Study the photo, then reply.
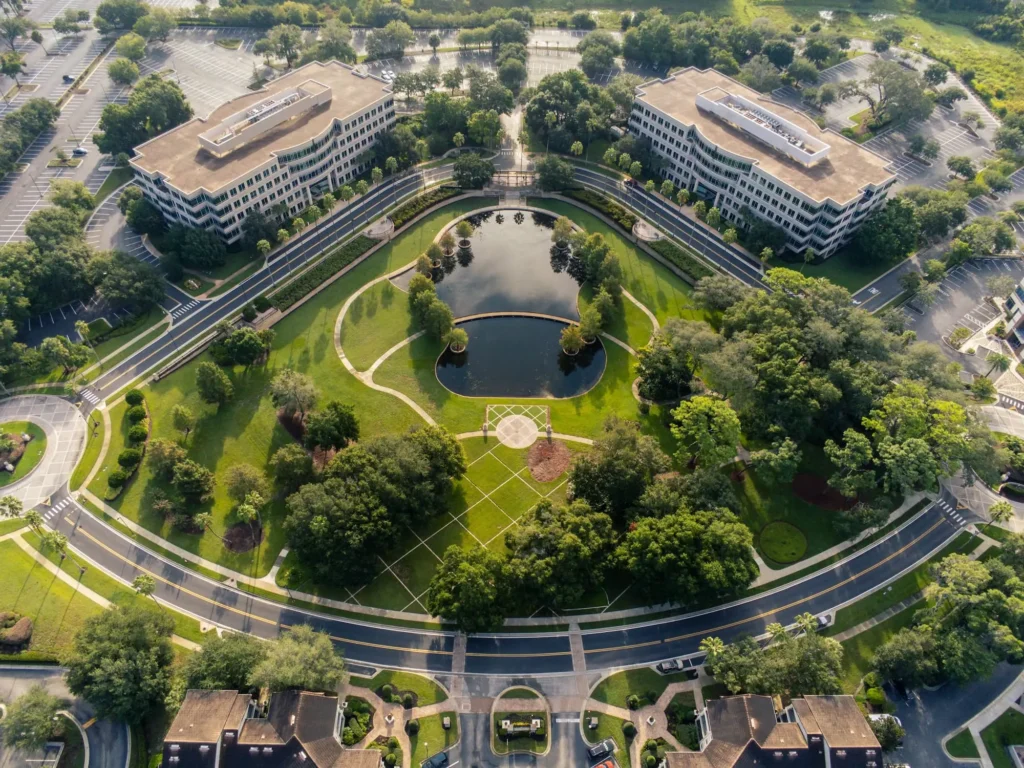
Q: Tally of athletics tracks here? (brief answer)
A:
none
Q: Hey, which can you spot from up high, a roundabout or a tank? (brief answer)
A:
roundabout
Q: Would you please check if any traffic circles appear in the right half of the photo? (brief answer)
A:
Yes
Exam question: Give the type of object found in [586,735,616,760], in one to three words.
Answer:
truck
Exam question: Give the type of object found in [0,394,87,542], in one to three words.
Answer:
roundabout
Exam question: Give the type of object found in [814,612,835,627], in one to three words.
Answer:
car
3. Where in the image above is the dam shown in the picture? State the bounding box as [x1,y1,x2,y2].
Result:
[448,309,582,326]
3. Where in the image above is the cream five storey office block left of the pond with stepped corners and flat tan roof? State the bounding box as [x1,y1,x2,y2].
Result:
[129,59,397,254]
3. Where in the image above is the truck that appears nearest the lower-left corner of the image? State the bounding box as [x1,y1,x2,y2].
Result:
[417,746,448,768]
